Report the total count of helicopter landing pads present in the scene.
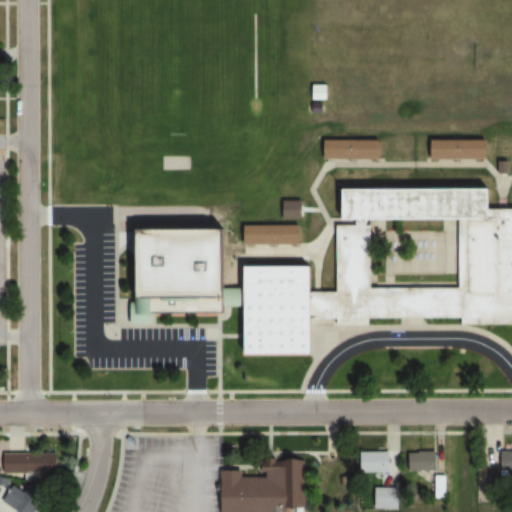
none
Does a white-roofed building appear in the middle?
Yes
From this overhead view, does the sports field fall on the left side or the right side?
left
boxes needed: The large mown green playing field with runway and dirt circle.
[53,0,300,202]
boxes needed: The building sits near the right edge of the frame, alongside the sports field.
[310,188,512,326]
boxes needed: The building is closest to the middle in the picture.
[244,224,302,248]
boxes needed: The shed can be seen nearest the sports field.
[283,200,302,219]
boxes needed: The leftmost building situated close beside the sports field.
[130,228,241,325]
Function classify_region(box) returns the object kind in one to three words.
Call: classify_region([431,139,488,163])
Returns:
building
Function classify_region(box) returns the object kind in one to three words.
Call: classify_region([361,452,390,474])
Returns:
house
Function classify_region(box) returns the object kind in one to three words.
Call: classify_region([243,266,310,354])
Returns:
building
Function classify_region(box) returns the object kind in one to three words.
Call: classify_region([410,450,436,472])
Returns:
house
